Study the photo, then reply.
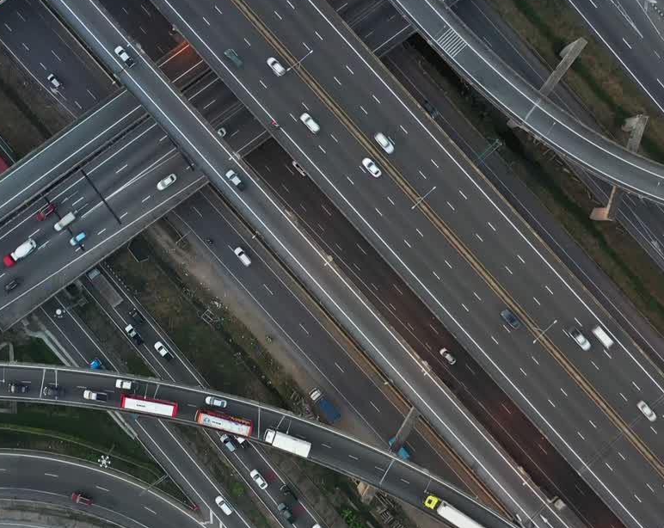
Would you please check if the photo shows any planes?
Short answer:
No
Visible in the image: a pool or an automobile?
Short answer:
automobile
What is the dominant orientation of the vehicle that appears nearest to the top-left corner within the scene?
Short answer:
on a diagonal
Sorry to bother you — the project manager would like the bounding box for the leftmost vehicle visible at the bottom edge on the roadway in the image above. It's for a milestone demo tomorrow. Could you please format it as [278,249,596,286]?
[70,491,95,506]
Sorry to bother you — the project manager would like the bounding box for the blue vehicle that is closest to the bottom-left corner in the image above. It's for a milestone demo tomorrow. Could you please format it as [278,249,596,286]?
[85,354,104,369]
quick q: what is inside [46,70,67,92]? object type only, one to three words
vehicle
